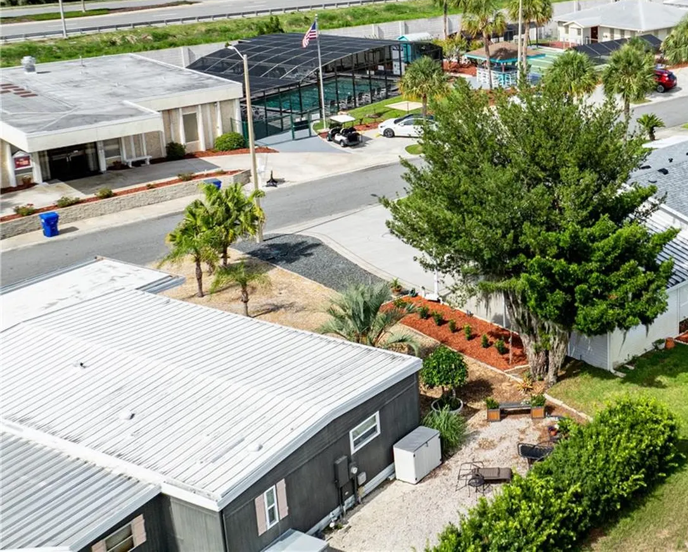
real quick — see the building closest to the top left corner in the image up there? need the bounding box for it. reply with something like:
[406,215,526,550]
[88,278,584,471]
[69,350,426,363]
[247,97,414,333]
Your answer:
[0,51,246,186]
